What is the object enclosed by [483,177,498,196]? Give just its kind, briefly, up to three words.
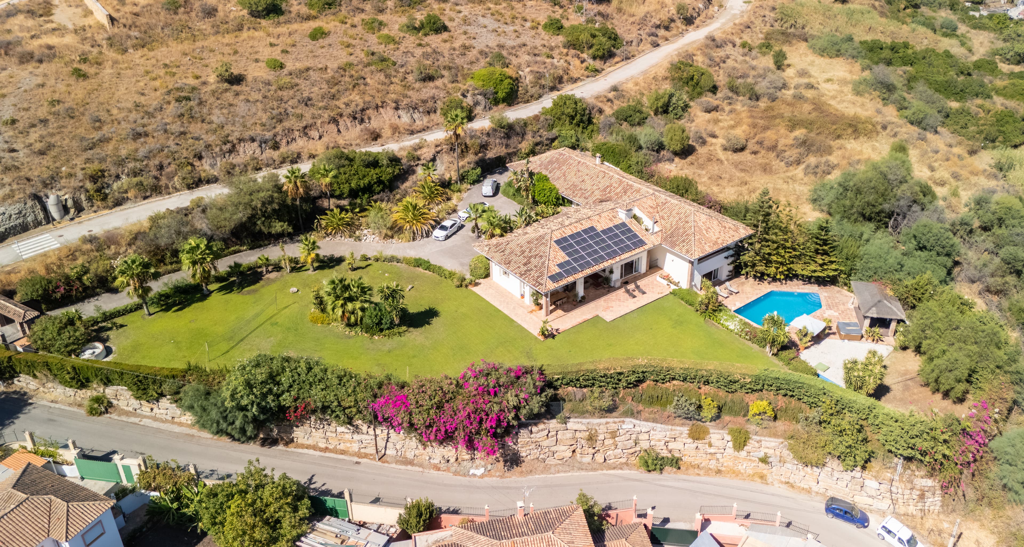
vehicle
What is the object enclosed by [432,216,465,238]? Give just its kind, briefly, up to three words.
car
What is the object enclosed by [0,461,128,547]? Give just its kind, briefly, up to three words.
house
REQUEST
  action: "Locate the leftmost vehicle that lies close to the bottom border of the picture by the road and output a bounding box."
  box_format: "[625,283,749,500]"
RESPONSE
[822,494,874,531]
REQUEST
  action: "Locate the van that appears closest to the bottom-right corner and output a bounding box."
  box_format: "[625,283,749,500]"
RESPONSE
[870,511,928,547]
